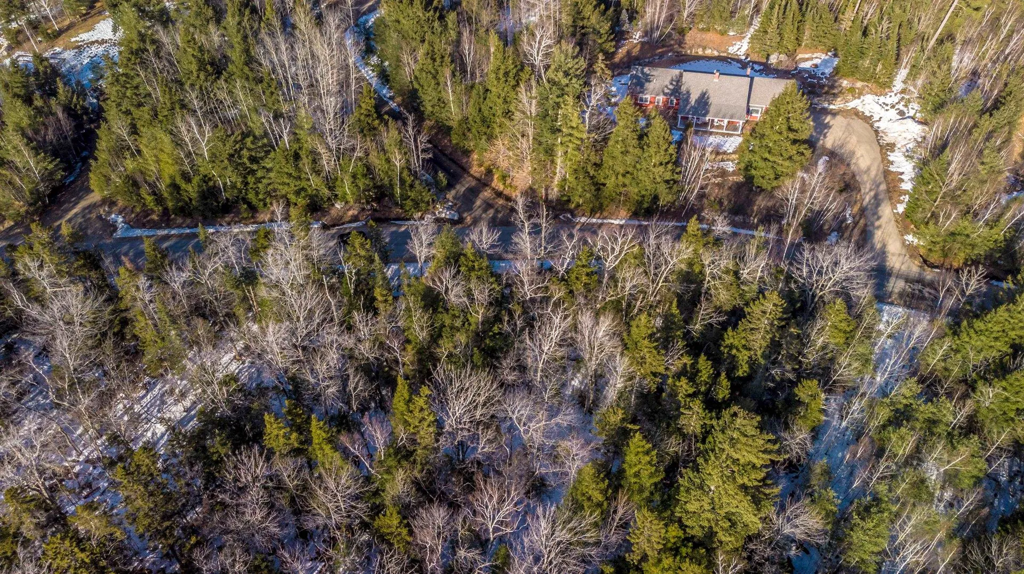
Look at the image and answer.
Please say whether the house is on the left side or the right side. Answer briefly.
right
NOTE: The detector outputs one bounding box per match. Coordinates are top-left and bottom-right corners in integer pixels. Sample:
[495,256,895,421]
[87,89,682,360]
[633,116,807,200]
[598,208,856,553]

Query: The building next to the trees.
[628,61,795,135]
